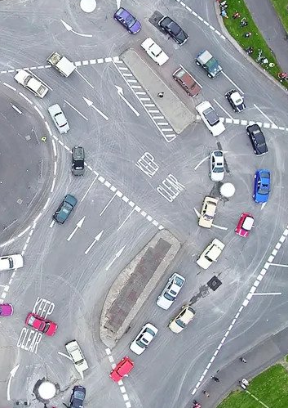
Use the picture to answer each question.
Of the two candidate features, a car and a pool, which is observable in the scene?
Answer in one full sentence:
I can see a car in this picture.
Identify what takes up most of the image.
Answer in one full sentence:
The largest share of the image is taken up by paved ground.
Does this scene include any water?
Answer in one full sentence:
No, no water is visible.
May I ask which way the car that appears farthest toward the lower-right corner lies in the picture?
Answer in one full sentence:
In this picture, the car that appears farthest toward the lower-right corner lies diagonally.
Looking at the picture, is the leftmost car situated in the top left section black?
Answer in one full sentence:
No, the color of the leftmost car situated in the top left section is white.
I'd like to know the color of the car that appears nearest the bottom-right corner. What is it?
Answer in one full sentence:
In this view, the car that appears nearest the bottom-right corner is white.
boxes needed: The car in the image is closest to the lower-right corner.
[167,305,195,333]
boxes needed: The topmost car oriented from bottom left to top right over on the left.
[51,193,78,226]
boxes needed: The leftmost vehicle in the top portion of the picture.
[13,69,49,100]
